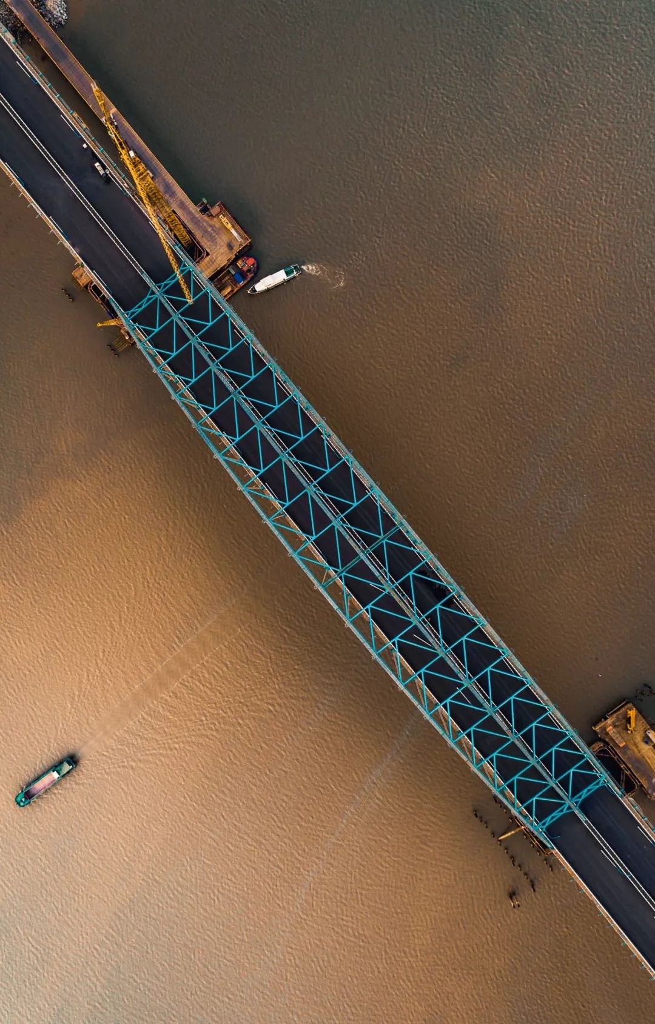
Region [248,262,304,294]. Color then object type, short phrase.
white ship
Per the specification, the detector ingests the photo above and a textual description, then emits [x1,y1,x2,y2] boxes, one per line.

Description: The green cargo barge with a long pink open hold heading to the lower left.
[15,753,81,807]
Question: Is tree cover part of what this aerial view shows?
No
